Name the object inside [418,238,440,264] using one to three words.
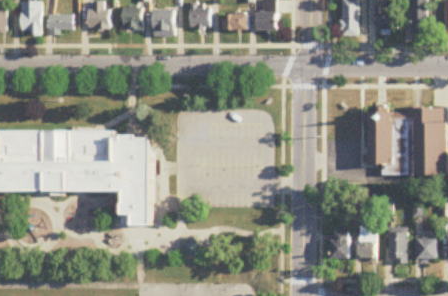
house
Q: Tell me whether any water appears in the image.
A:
No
